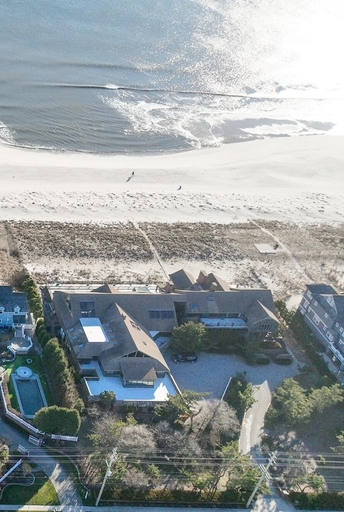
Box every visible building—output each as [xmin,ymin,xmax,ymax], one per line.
[45,261,290,408]
[292,283,344,378]
[0,282,41,346]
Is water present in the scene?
Yes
